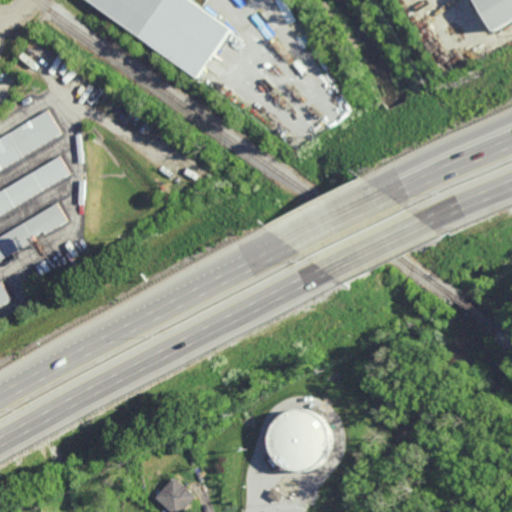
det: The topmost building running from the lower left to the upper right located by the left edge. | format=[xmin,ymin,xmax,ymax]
[0,110,66,172]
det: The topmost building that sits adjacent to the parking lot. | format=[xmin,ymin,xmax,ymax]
[86,0,234,78]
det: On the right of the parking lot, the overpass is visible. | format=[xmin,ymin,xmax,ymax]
[258,170,444,292]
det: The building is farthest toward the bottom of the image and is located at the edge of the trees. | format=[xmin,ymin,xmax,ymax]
[156,480,194,512]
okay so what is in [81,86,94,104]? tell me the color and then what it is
white vehicle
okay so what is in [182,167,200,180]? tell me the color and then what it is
white vehicle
